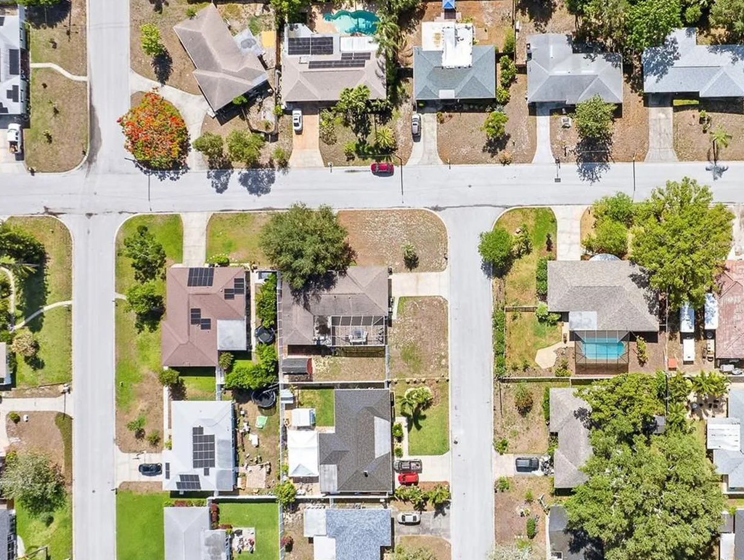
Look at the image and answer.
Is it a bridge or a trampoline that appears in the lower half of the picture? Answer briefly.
trampoline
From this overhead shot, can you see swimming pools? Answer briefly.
Yes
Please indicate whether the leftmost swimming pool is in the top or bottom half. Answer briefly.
top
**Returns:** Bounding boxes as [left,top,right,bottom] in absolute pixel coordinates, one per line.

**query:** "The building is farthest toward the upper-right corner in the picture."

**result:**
[643,28,744,98]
